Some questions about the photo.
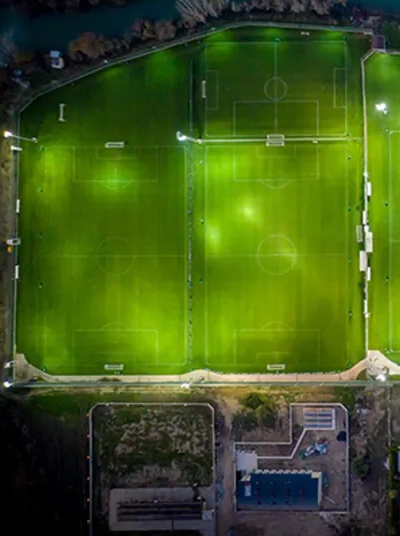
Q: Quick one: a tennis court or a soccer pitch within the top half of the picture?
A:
soccer pitch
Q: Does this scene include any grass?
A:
Yes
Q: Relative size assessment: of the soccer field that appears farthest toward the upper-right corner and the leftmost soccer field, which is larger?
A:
the leftmost soccer field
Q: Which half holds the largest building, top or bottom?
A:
bottom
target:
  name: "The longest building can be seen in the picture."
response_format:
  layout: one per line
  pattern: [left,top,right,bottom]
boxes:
[238,469,322,509]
